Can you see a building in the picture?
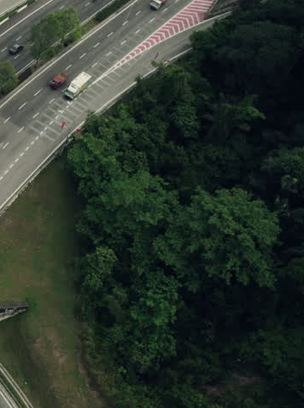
No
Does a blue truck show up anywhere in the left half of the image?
No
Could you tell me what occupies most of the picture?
trees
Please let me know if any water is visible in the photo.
No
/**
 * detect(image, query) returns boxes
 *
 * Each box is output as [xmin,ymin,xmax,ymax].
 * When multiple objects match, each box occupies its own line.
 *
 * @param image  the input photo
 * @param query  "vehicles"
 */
[149,0,169,12]
[5,41,26,57]
[64,68,93,99]
[45,71,70,90]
